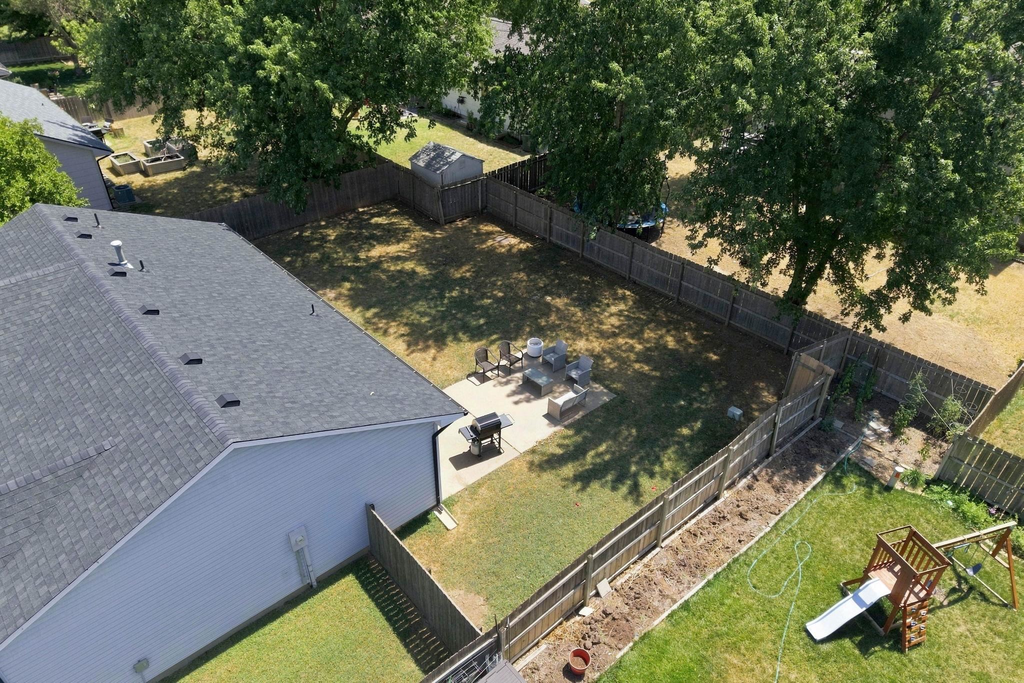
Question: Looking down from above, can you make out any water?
No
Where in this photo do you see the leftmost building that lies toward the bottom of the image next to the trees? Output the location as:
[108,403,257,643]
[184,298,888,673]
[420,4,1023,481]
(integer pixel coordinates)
[0,205,470,683]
